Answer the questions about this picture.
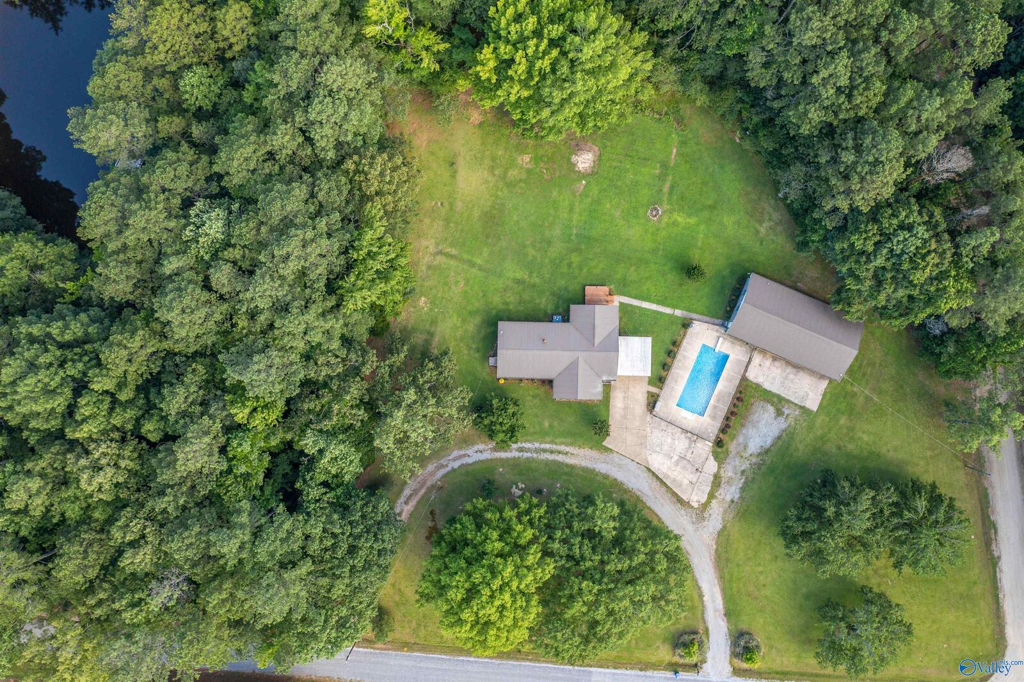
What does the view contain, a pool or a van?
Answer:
pool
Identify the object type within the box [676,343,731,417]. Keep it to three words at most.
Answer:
swimming pool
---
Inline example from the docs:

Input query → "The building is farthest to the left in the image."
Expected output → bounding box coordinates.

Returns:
[498,304,620,400]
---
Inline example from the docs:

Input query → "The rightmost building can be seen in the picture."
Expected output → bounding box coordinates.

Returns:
[726,273,865,382]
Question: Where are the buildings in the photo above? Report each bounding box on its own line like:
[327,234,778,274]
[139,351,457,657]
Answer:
[498,304,620,400]
[726,273,865,382]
